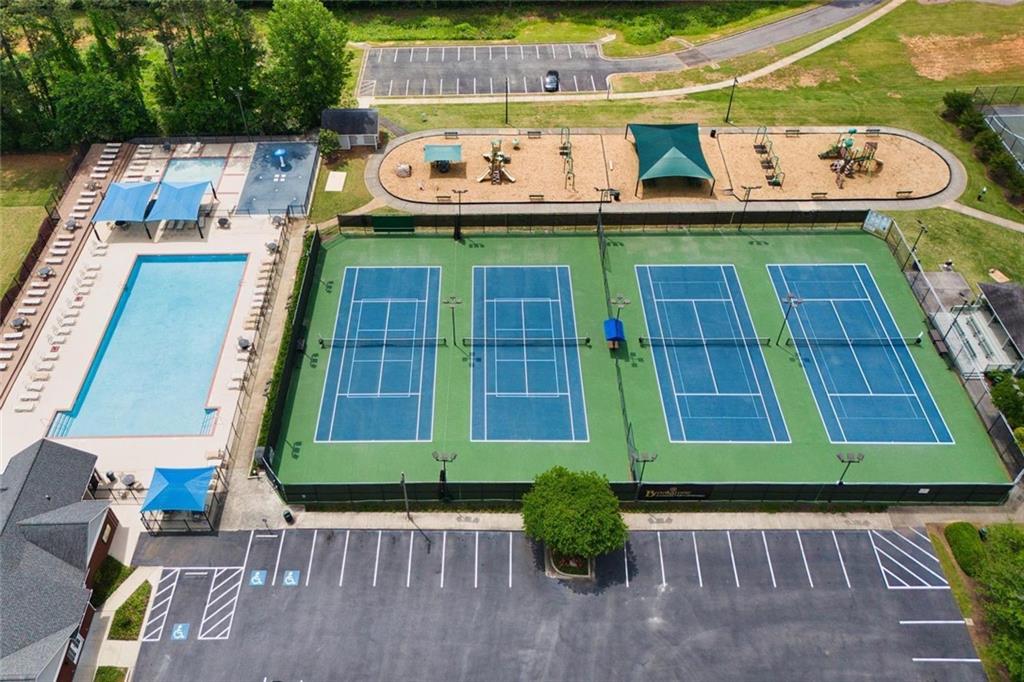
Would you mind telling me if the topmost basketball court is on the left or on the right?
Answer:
right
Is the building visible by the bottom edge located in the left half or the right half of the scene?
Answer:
left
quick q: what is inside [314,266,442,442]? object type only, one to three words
tennis court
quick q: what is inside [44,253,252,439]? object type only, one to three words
swimming pool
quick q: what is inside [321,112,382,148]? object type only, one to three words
shed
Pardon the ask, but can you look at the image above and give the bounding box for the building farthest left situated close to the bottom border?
[0,438,120,682]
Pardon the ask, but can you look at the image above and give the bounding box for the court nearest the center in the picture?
[470,265,589,442]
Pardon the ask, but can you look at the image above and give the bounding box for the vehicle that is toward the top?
[545,70,560,90]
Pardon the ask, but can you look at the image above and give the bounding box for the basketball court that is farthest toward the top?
[976,105,1024,166]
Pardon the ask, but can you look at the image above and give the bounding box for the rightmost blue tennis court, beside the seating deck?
[766,264,955,443]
